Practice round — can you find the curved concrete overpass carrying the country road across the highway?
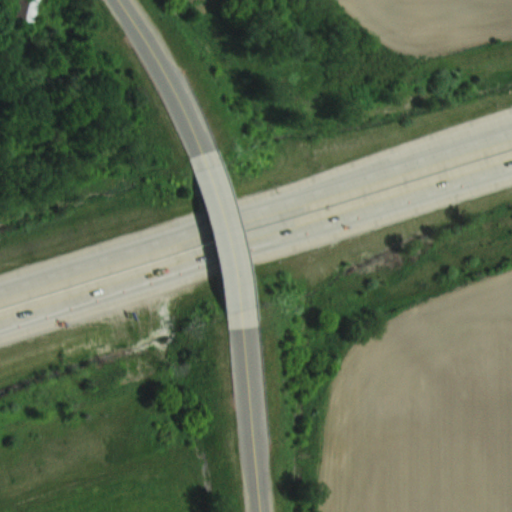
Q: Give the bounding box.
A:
[190,149,260,330]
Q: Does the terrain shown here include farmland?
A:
Yes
